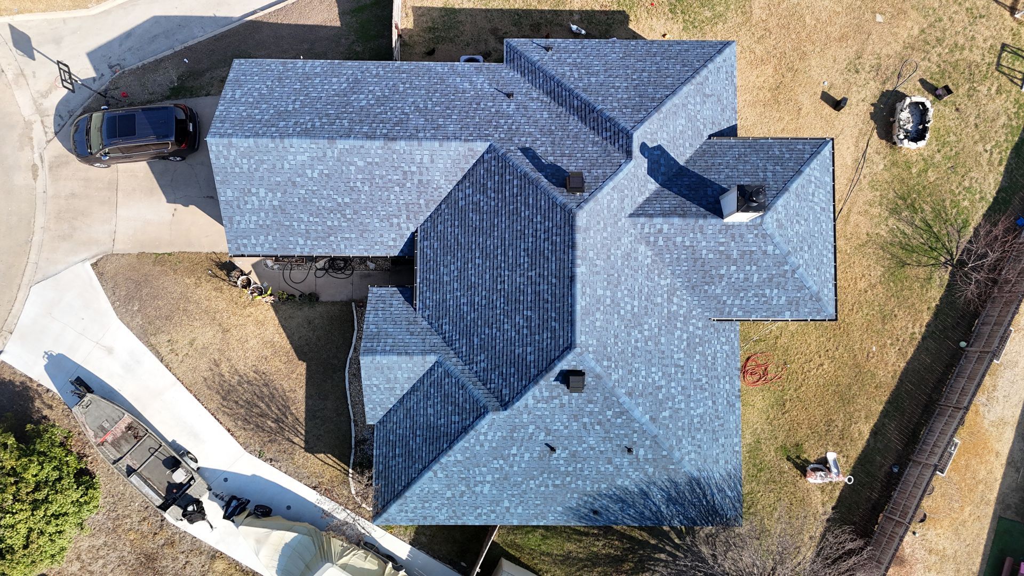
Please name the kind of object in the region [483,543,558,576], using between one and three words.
shed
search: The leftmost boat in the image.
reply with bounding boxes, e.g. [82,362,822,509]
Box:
[66,380,218,529]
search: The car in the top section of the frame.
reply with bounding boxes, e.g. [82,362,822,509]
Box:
[73,102,204,166]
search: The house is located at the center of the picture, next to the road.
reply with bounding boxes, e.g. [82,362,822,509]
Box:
[205,39,840,529]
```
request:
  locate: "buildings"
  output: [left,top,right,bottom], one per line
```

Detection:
[483,543,558,576]
[205,39,840,529]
